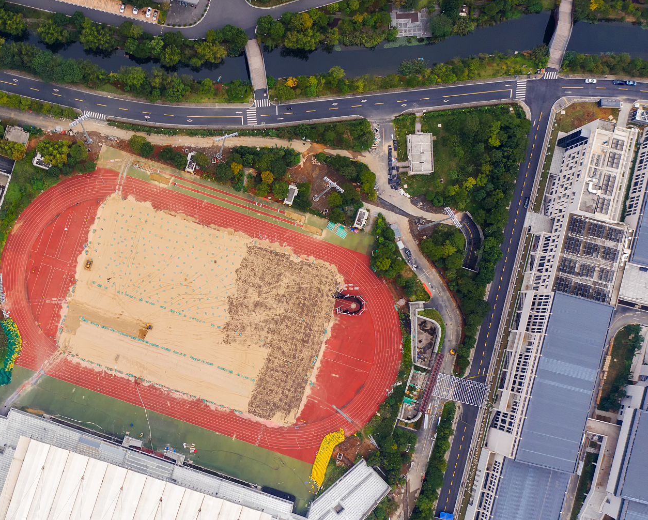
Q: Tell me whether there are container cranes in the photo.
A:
No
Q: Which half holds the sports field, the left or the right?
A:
left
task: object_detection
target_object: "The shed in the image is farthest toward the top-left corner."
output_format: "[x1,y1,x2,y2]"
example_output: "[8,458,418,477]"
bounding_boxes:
[5,125,31,148]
